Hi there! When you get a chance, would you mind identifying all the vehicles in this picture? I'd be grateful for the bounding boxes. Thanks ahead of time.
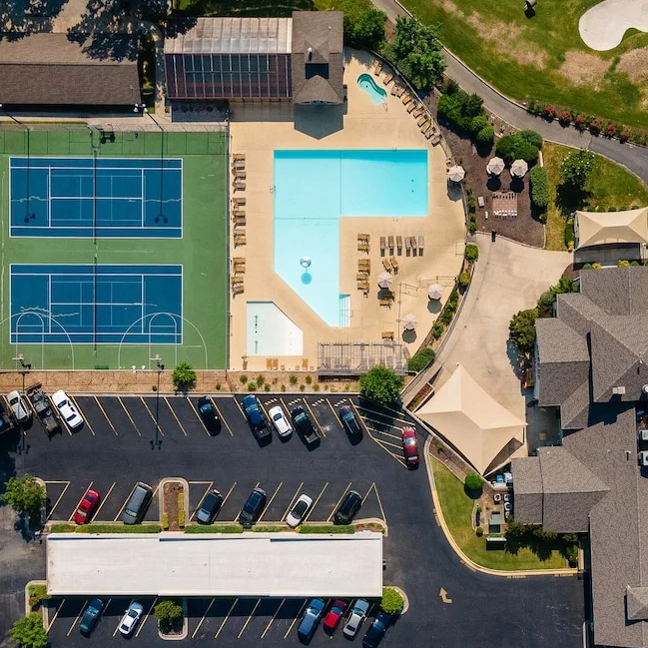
[77,598,104,635]
[323,598,348,631]
[194,395,222,432]
[343,600,371,637]
[0,407,12,433]
[400,426,419,466]
[238,488,266,525]
[5,389,33,427]
[266,402,294,439]
[22,385,63,436]
[288,402,321,448]
[121,483,151,522]
[285,493,313,528]
[336,403,364,440]
[54,391,82,427]
[116,600,144,637]
[239,393,273,440]
[334,489,362,526]
[195,488,223,524]
[361,608,394,648]
[72,487,101,523]
[296,599,325,637]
